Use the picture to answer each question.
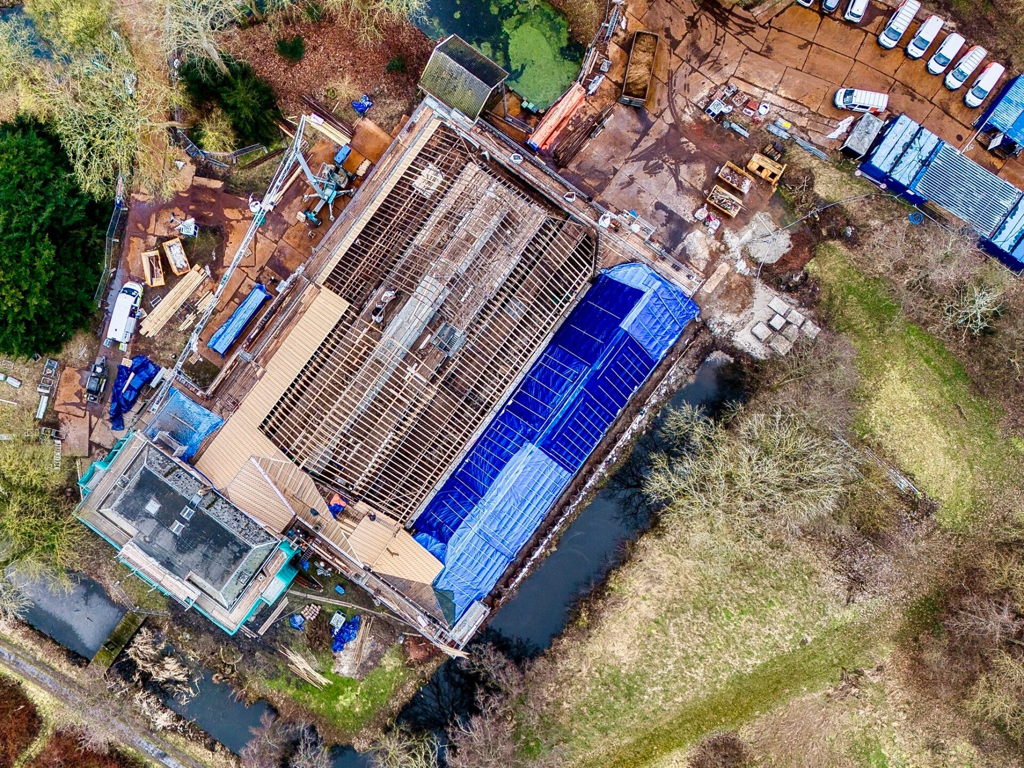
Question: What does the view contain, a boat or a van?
van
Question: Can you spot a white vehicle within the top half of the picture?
Yes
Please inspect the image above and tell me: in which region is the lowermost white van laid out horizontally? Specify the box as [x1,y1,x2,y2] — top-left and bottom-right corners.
[826,85,891,119]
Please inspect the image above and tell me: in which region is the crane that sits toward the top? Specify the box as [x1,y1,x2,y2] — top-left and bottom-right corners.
[151,115,358,412]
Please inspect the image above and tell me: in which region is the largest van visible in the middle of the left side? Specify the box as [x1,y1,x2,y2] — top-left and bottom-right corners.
[109,281,148,353]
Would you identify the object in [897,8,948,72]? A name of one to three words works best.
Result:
van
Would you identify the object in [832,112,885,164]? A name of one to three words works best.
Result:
shed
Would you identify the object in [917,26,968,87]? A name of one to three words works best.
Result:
van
